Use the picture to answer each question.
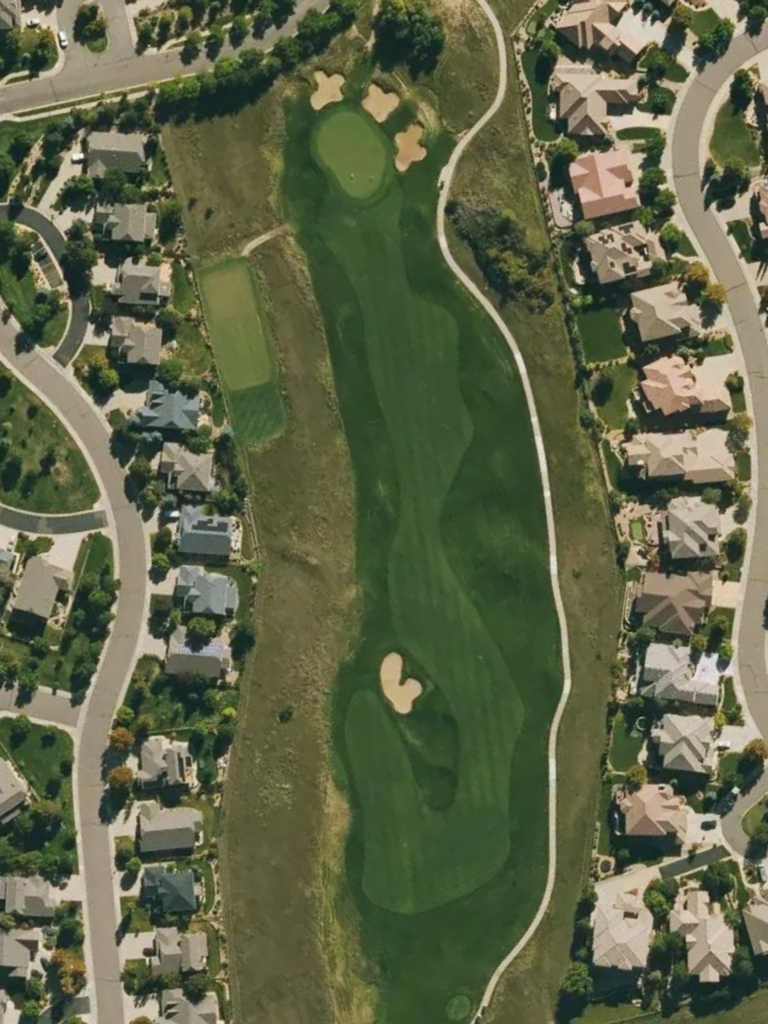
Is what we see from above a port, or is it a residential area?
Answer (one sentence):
This image shows a residential area.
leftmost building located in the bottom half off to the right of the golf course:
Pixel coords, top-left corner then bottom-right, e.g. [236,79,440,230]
[592,875,655,970]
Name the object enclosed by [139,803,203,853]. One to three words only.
house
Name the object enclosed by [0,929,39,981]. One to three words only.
house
